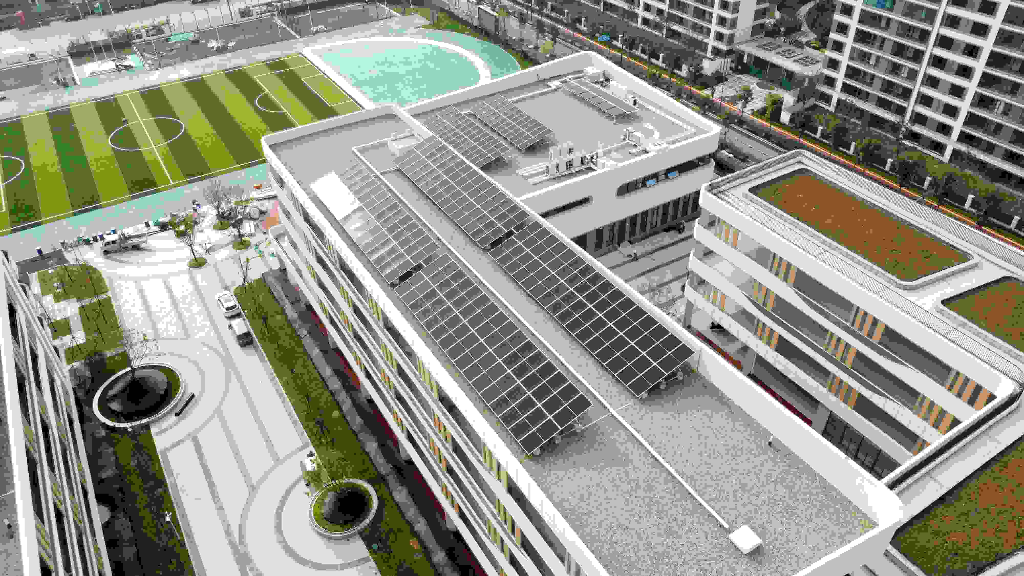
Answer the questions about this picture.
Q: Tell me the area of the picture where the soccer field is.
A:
top left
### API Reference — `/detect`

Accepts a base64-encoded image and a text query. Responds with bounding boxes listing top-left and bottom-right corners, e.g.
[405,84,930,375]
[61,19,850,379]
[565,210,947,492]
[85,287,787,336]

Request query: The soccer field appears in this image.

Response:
[0,53,367,235]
